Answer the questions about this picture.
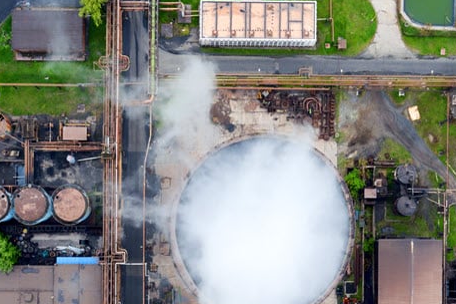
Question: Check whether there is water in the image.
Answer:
Yes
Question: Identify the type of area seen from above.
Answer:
industrial area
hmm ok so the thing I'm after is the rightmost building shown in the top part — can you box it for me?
[200,0,317,49]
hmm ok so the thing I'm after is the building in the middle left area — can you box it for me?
[60,122,94,142]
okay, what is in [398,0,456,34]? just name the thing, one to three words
pond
